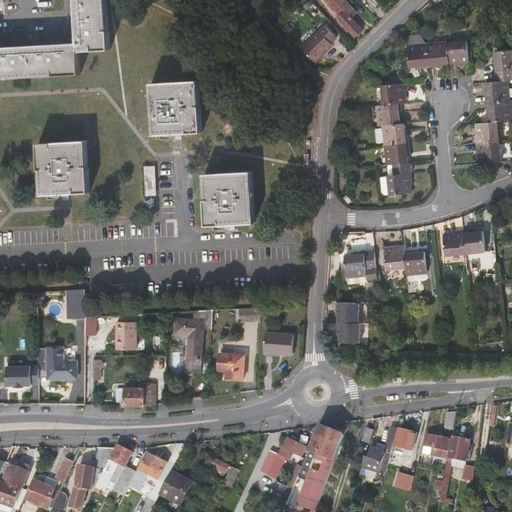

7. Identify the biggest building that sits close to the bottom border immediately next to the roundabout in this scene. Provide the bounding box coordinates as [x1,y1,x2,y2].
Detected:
[297,446,333,512]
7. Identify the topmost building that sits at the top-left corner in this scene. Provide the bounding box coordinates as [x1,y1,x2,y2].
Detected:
[70,0,110,54]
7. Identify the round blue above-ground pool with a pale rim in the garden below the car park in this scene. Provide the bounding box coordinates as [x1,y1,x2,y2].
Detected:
[47,302,64,318]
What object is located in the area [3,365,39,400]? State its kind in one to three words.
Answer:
house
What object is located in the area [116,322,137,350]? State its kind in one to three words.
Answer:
house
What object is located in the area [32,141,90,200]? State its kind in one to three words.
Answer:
building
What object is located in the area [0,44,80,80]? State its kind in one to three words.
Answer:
building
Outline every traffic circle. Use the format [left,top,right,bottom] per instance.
[290,364,346,420]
